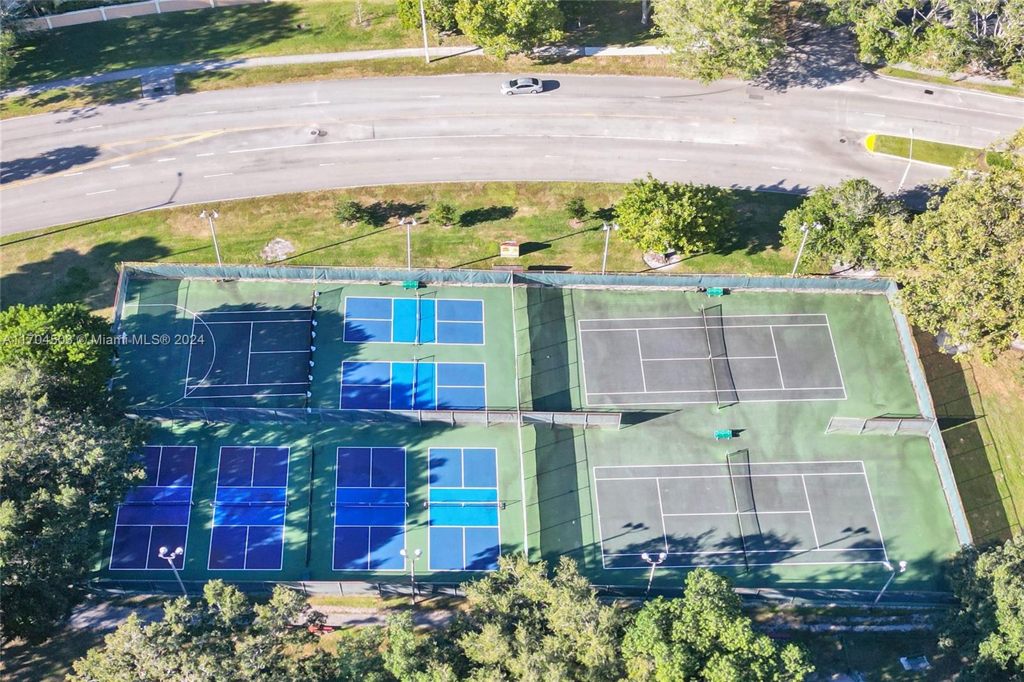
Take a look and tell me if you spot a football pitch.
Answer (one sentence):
No, no football pitch is visible in the scene.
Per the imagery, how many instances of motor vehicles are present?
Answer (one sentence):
In total, 1 motor vehicle can be seen.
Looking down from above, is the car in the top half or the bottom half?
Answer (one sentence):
The car sits in the top half of the picture.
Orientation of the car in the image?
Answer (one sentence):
From this overhead view, the car appears to run from left to right.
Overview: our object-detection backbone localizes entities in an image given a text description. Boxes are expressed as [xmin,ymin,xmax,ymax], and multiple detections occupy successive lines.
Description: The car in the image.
[499,75,543,95]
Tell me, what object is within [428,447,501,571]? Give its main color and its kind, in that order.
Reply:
blue sports court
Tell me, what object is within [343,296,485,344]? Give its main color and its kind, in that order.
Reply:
blue sports court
